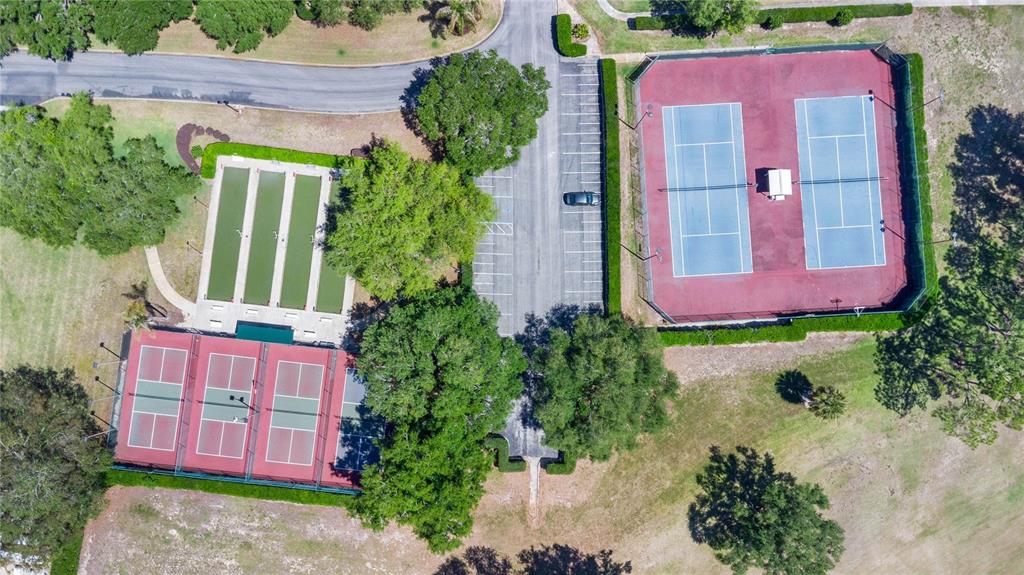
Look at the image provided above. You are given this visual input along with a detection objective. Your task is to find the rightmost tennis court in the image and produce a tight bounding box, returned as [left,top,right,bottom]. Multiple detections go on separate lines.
[794,95,886,269]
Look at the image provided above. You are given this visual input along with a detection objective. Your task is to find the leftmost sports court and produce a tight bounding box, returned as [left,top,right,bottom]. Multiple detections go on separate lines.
[127,345,187,451]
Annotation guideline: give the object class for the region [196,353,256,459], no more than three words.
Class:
sports court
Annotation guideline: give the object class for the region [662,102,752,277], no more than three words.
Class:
tennis court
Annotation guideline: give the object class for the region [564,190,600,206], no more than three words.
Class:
car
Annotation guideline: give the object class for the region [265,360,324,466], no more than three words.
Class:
sports court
